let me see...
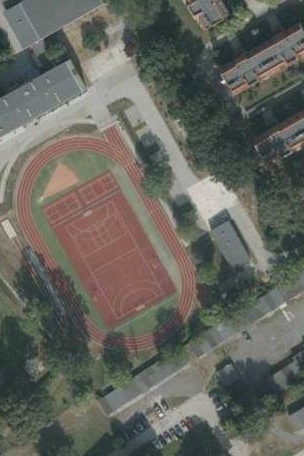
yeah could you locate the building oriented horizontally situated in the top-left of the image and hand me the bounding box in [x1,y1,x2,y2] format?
[4,0,106,51]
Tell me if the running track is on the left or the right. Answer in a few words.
left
